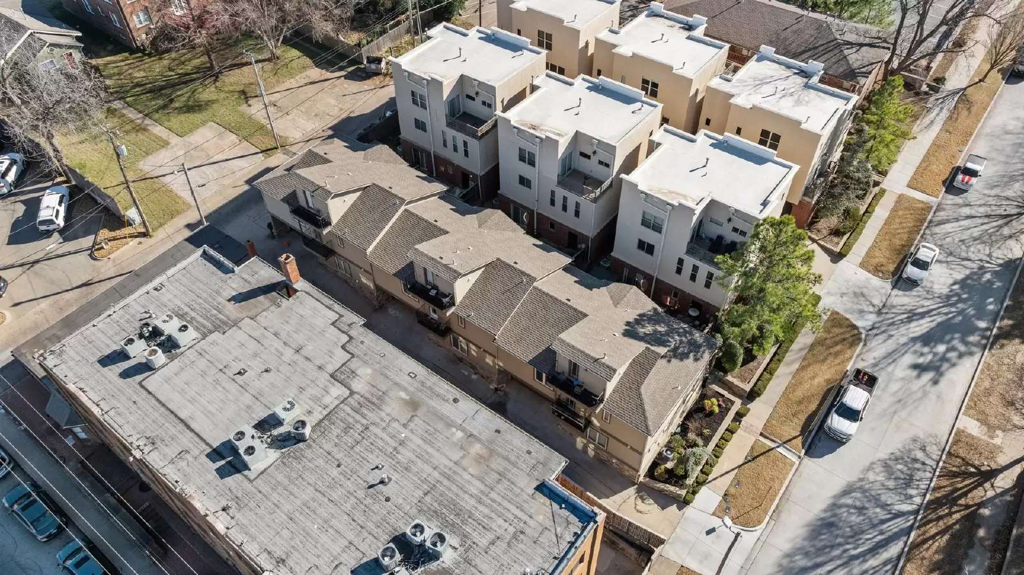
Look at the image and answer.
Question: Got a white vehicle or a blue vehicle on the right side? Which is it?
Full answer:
It is a white vehicle that can be seen on the right side.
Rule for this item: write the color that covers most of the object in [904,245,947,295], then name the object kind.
white car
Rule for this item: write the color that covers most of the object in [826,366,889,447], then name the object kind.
white truck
